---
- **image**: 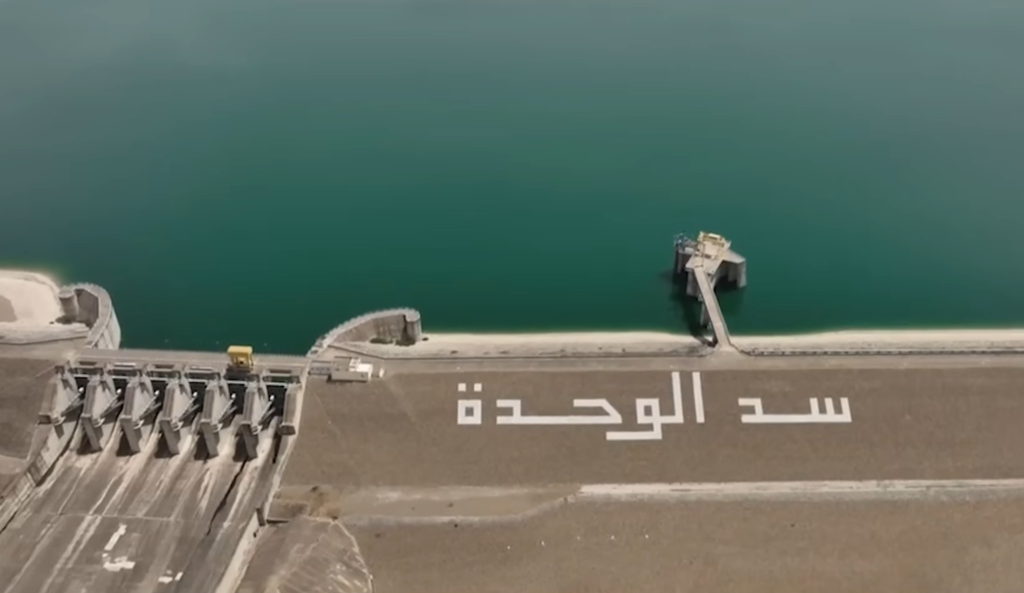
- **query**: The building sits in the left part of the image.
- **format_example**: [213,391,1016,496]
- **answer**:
[331,358,372,381]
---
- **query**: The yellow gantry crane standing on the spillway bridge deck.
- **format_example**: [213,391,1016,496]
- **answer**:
[225,346,257,372]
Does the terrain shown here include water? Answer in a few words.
Yes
